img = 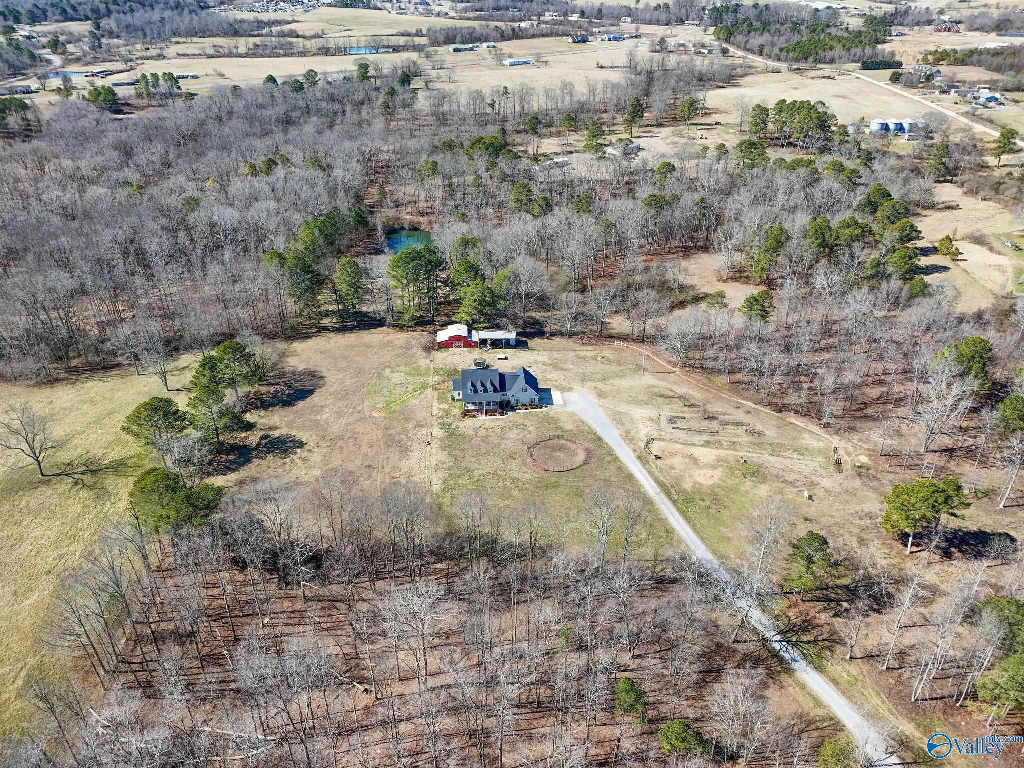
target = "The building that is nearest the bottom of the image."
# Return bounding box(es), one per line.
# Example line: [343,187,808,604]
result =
[453,363,539,416]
